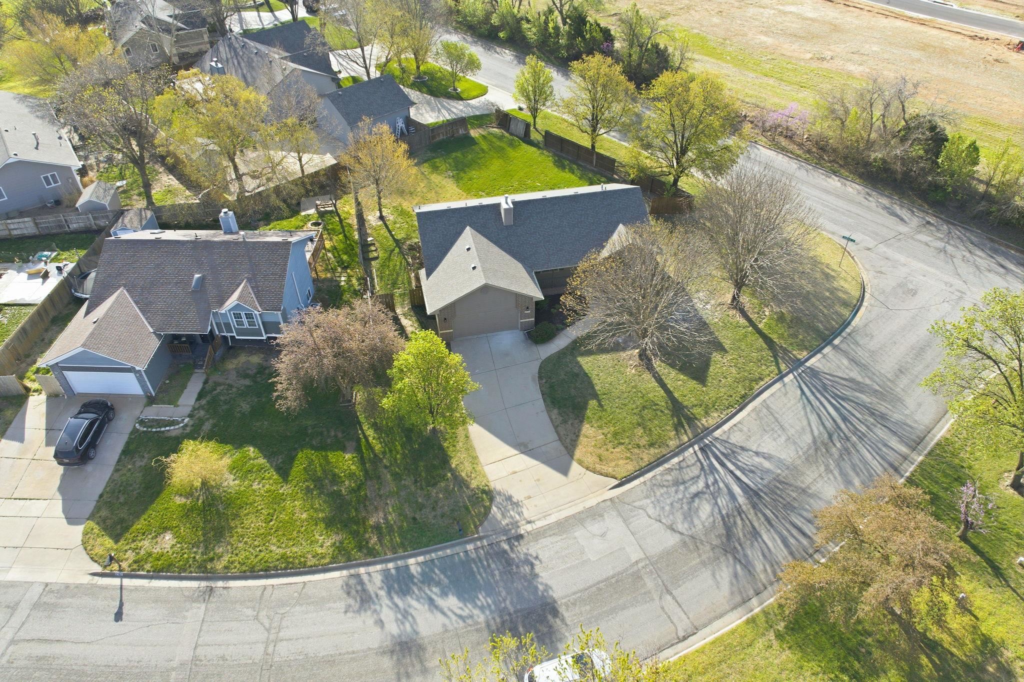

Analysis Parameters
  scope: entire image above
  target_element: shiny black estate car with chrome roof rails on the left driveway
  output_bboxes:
[56,399,116,460]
